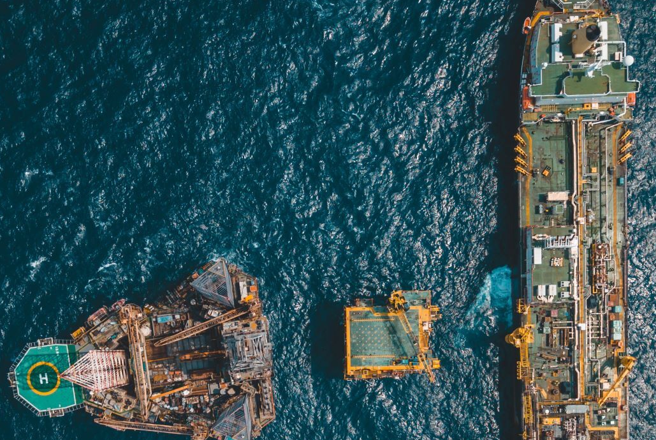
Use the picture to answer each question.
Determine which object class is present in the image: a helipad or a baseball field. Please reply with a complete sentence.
Looking from above, you can make out a helipad.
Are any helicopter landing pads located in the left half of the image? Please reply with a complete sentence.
Yes, looking in the left half of the image, one can make out a helicopter landing pad.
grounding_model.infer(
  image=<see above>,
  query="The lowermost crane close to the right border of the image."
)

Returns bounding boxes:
[597,354,646,406]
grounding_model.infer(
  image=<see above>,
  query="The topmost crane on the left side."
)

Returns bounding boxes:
[154,294,268,347]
